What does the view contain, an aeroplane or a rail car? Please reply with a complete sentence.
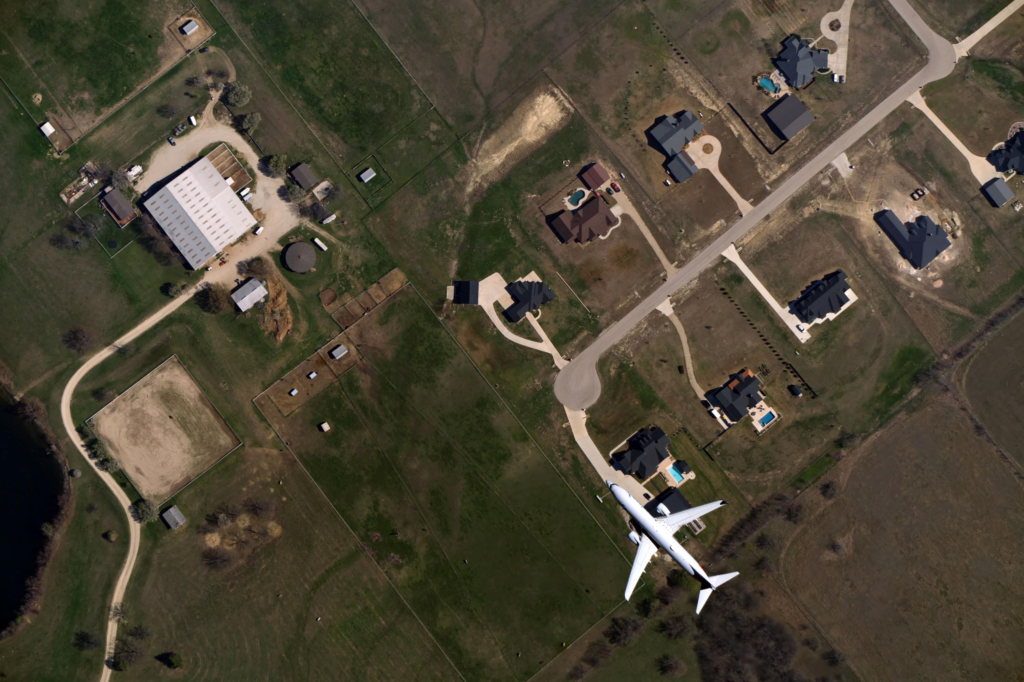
There is an aeroplane in the scene.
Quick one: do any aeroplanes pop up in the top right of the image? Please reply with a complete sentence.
No, there is no aeroplane in the top right of the image.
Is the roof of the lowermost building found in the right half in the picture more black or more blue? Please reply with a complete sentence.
From above, the roof of the lowermost building found in the right half appears black.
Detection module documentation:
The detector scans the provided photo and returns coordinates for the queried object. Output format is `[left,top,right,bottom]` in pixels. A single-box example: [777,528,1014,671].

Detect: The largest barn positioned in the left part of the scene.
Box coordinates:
[144,155,256,269]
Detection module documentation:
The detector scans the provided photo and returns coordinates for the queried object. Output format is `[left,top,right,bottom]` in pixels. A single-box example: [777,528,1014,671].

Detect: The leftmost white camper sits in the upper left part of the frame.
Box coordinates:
[126,165,143,180]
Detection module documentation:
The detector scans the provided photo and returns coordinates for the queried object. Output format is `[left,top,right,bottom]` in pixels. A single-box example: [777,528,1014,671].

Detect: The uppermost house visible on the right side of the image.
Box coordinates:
[774,37,828,85]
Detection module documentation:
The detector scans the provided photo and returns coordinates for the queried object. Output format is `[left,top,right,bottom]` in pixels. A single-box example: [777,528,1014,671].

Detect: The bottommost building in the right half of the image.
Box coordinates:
[647,485,699,536]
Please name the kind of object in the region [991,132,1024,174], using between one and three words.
house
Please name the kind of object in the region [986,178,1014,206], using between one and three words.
building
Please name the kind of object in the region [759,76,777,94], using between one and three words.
swimming pool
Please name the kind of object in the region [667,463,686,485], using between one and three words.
swimming pool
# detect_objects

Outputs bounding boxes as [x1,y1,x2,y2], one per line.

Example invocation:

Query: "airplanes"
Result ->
[605,479,741,615]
